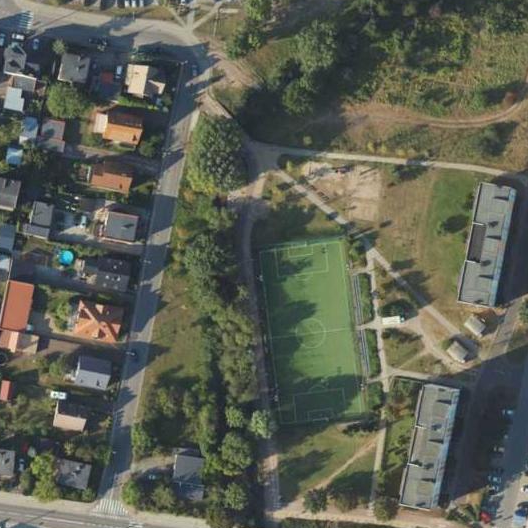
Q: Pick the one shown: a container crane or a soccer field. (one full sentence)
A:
Looking from above, you can make out a soccer field.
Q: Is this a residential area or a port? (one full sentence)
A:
This image shows a residential area.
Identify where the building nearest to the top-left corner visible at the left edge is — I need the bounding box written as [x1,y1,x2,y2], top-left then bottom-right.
[4,45,40,76]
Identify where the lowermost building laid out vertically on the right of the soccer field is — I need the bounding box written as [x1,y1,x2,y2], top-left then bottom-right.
[398,384,460,510]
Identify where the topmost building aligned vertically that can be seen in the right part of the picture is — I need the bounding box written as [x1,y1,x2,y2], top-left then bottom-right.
[456,183,516,307]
